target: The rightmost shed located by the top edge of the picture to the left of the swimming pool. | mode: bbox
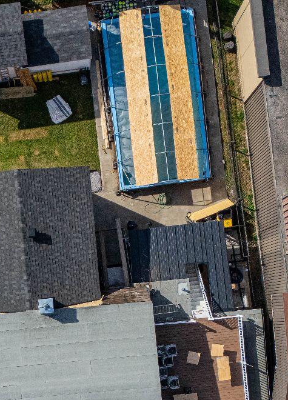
[22,6,92,76]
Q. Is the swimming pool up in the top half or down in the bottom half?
top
